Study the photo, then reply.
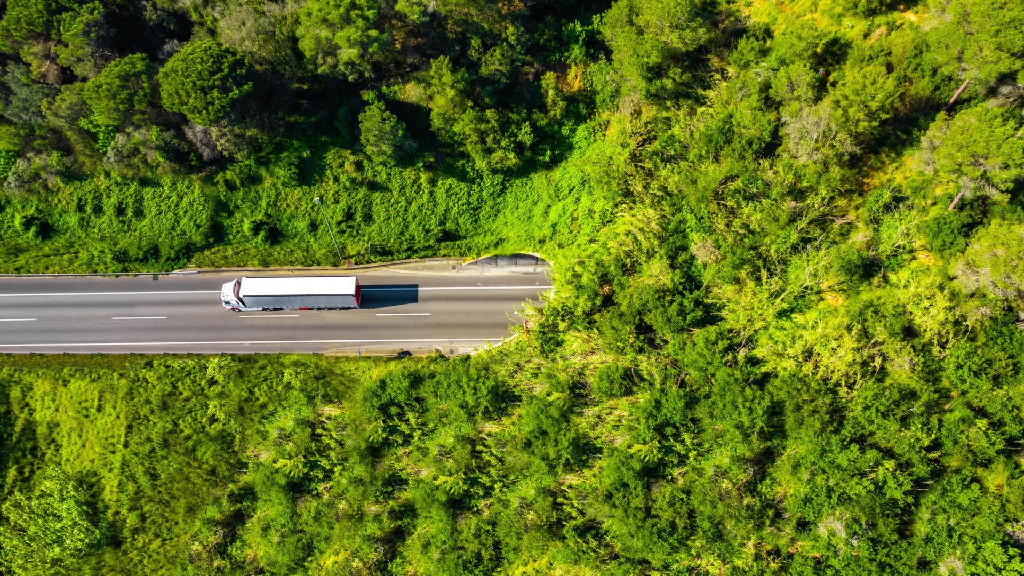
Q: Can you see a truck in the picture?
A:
Yes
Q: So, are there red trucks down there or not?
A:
No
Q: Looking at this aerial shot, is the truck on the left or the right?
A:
left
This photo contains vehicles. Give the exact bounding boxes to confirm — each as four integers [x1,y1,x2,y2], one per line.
[220,276,362,311]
